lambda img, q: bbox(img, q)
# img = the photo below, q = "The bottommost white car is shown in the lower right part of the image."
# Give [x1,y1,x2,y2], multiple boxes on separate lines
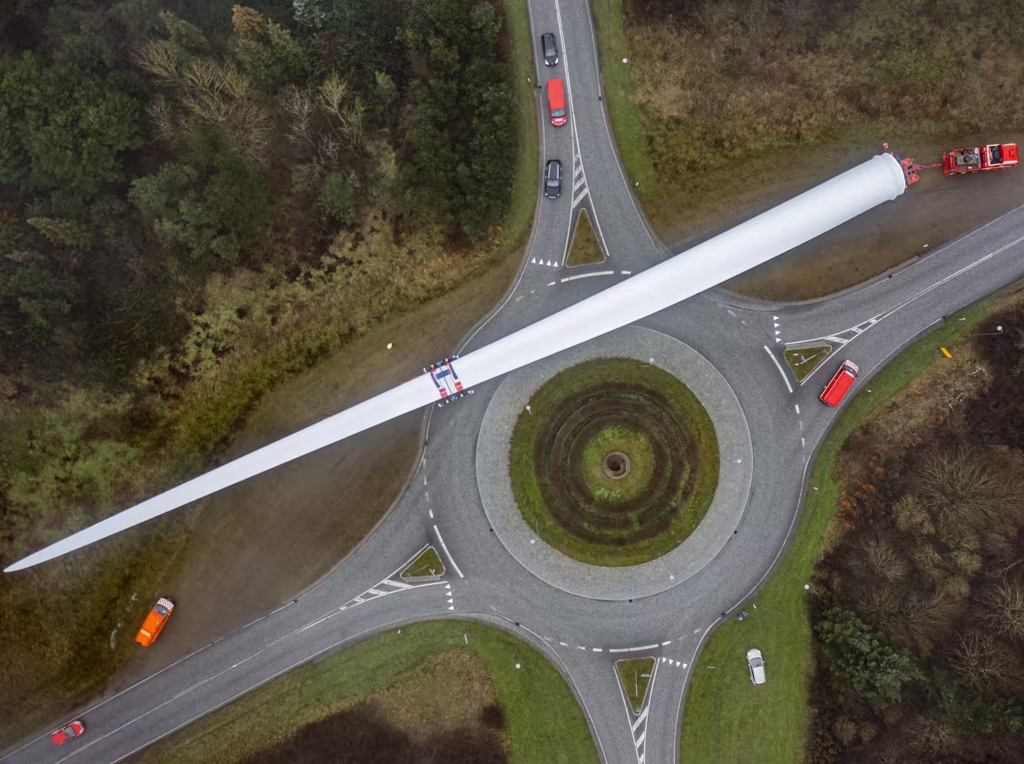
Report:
[745,647,767,686]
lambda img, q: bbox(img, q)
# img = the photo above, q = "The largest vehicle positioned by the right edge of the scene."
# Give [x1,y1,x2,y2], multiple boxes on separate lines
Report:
[937,142,1022,178]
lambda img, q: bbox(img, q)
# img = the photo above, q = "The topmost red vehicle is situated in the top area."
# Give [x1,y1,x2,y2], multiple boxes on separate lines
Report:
[547,81,568,127]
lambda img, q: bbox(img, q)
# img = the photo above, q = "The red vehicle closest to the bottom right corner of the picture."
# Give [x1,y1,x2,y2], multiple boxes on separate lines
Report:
[820,359,859,407]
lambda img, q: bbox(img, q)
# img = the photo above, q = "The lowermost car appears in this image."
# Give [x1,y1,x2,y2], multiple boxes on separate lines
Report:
[49,719,87,748]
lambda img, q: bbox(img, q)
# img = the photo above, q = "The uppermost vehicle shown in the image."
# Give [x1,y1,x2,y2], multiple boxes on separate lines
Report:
[541,31,559,68]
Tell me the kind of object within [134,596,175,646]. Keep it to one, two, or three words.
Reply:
van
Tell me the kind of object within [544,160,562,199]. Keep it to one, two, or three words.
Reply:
car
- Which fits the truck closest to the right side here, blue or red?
red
